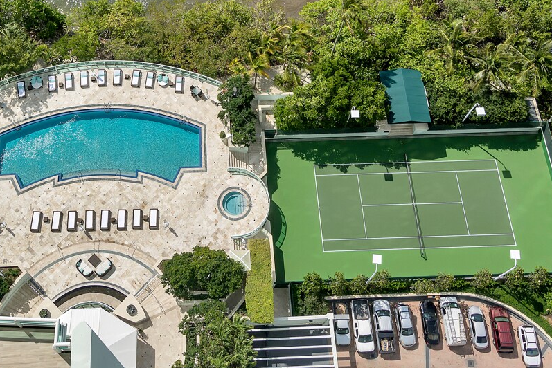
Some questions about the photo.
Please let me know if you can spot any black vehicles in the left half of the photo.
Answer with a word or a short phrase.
No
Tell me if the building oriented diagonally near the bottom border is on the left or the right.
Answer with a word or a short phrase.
left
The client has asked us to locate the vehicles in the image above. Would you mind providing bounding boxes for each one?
[489,307,515,353]
[372,300,396,354]
[352,300,374,352]
[516,325,541,368]
[466,306,490,349]
[393,301,417,347]
[439,298,466,346]
[332,300,354,345]
[418,301,441,345]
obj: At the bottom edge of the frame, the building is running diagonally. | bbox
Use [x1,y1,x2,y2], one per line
[60,307,137,368]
